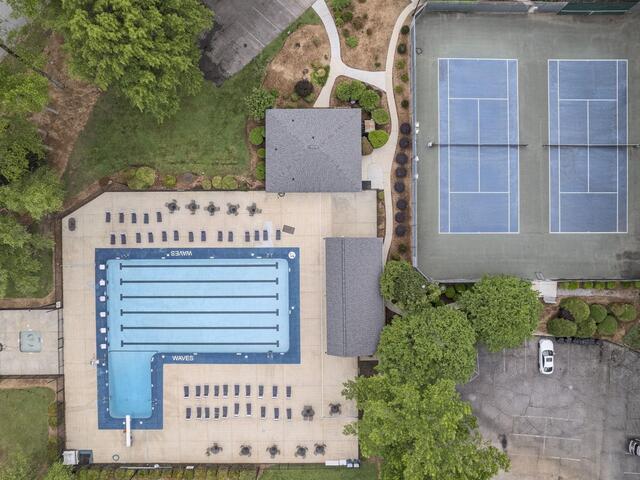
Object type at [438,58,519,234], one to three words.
tennis court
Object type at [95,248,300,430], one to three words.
swimming pool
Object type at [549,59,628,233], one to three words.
tennis court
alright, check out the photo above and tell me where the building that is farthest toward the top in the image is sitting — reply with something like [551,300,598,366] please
[264,109,362,192]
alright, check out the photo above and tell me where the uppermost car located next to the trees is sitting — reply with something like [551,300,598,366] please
[536,338,556,374]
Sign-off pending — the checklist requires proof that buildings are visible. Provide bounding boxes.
[264,109,362,192]
[325,234,385,358]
